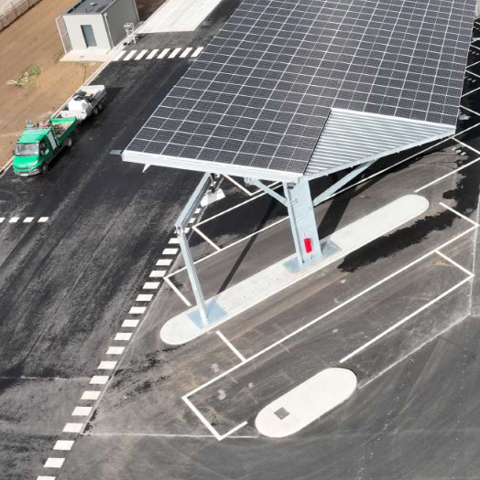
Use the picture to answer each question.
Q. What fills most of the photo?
paved ground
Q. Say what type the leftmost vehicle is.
truck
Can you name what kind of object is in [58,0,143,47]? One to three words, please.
shed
